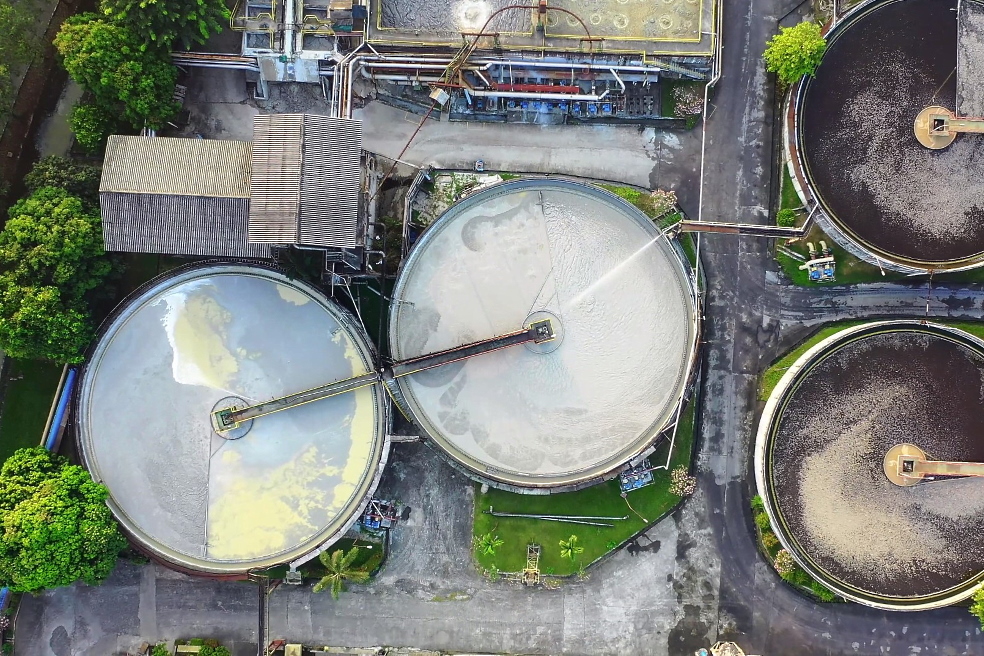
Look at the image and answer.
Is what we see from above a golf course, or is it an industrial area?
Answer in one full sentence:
It's an industrial area.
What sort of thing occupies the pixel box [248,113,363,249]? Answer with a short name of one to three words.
shed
